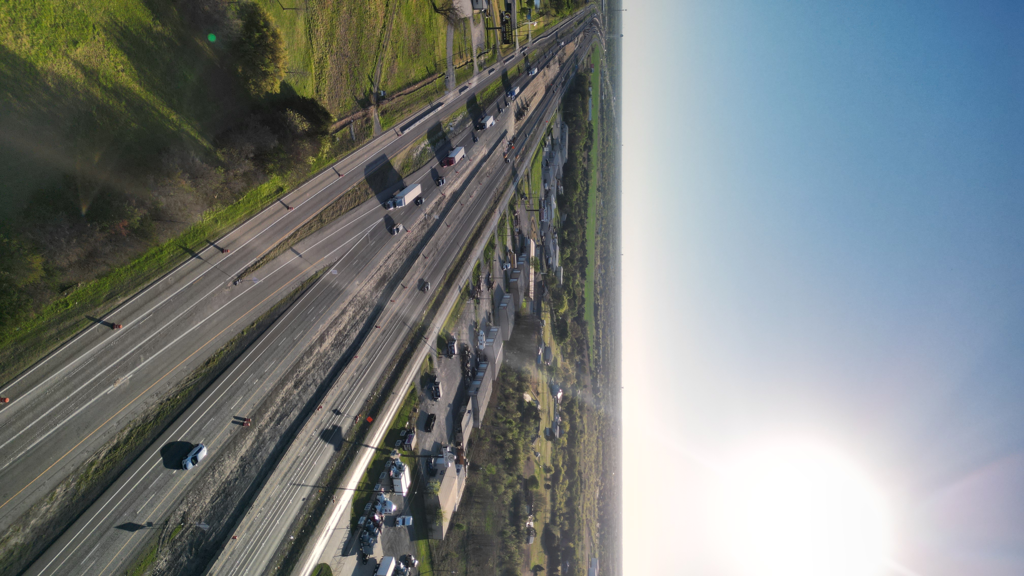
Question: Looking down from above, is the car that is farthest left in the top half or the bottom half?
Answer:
bottom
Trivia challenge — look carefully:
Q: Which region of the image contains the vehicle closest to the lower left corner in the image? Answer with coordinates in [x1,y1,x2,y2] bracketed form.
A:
[180,441,208,472]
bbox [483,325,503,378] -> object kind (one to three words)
shed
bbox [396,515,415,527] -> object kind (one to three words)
vehicle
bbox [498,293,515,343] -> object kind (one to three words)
shed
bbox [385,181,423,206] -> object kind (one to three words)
truck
